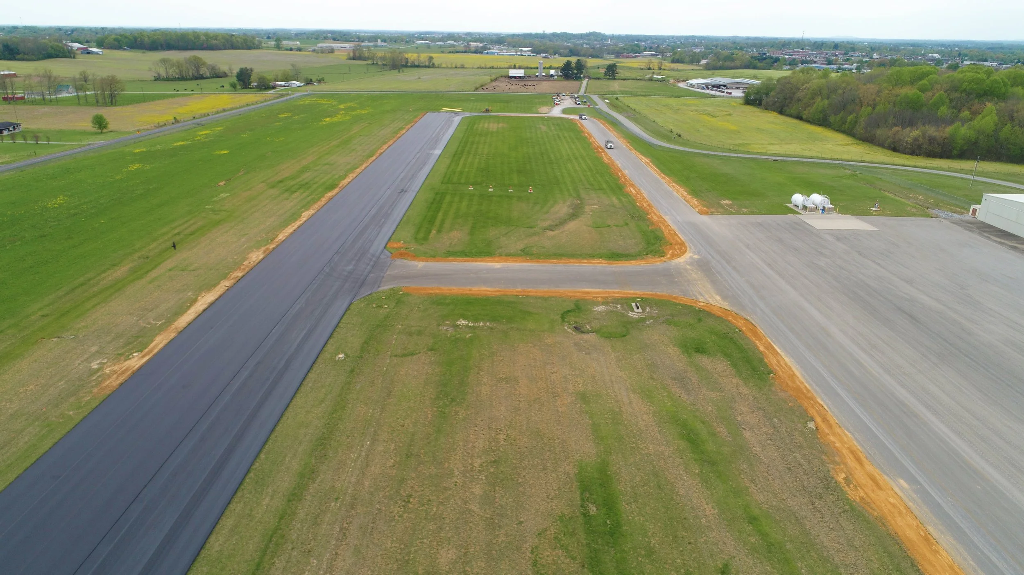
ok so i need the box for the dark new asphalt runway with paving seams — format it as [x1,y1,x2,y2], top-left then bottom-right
[0,113,467,575]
